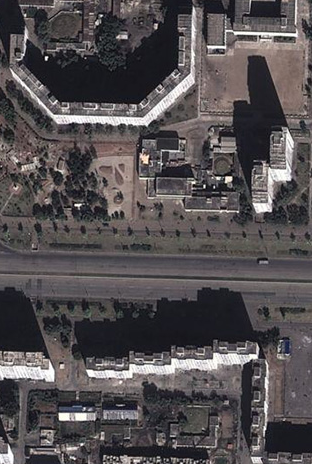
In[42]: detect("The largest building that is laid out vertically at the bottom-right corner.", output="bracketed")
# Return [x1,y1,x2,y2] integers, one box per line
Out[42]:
[251,359,268,462]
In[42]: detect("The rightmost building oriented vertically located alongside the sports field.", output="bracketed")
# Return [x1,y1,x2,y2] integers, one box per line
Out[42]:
[270,129,291,182]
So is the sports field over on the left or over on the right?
right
